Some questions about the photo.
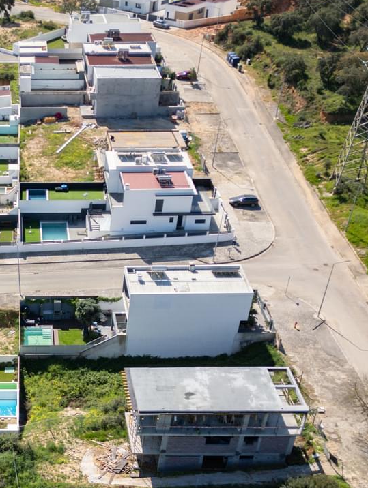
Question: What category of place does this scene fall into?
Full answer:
The area seen from above is a residential area.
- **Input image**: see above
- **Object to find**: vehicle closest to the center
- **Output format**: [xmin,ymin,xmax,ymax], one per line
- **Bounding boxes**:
[229,194,258,207]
